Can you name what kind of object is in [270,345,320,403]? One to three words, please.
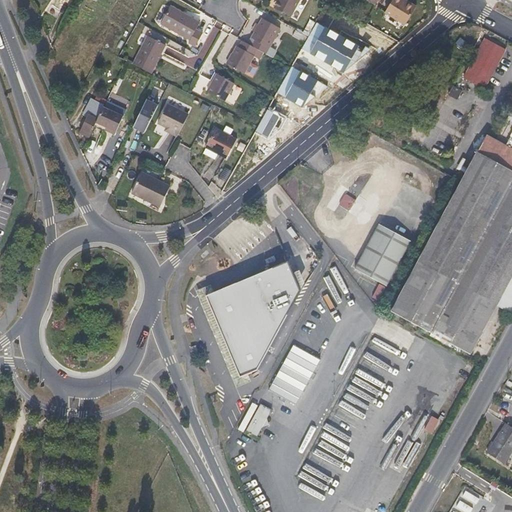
shed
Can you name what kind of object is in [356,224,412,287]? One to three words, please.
building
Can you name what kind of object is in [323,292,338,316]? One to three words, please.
vehicle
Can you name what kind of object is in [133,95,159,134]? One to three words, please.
house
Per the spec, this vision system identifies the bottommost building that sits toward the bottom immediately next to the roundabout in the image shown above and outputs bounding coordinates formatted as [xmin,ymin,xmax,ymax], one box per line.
[194,263,304,388]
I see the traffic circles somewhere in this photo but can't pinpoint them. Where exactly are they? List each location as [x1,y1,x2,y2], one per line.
[6,201,208,398]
